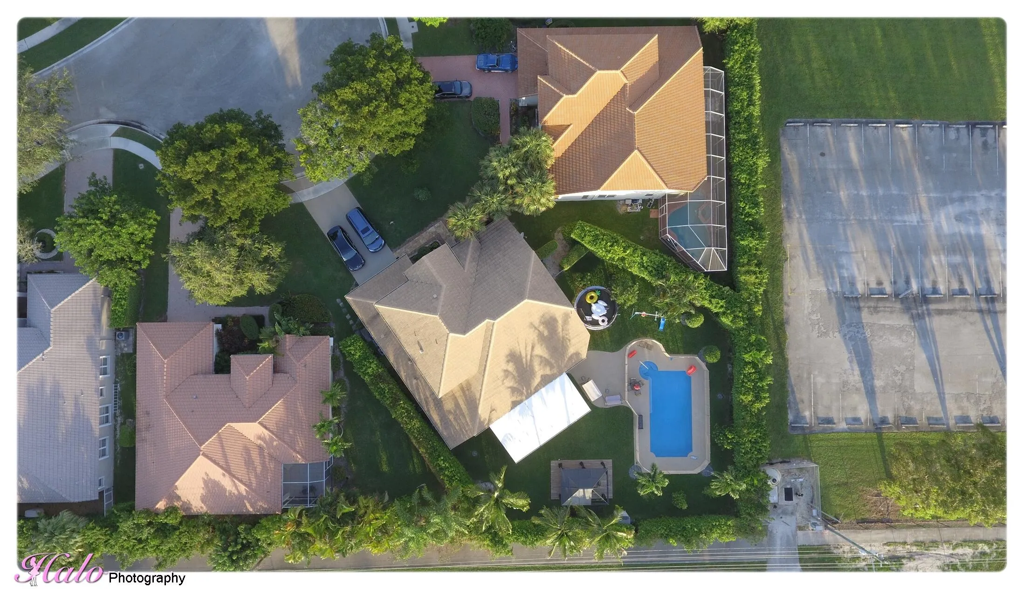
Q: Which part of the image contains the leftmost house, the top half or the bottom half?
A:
bottom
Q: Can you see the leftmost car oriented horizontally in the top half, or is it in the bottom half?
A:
top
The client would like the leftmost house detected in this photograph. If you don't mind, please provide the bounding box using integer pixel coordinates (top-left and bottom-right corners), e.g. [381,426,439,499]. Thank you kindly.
[0,273,117,504]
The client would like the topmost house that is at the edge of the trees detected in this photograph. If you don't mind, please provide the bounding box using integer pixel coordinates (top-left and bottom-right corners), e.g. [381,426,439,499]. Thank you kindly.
[516,26,706,199]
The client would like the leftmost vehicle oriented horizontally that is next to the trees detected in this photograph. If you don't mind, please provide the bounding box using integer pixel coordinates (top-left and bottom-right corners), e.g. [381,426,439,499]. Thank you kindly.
[426,78,474,101]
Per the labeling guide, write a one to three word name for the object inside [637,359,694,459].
swimming pool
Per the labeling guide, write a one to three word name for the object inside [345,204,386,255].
car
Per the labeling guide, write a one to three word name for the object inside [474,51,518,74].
car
